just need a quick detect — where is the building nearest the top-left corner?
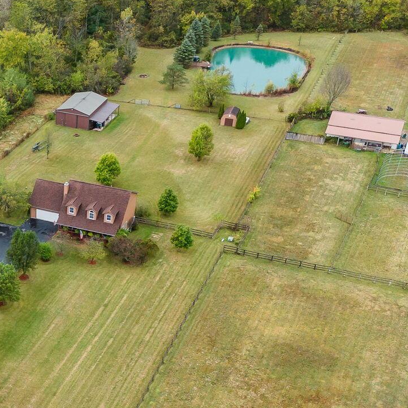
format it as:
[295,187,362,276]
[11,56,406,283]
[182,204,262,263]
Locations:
[56,90,117,134]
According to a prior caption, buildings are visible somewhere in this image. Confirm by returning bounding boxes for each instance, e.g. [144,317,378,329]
[56,90,117,134]
[33,180,149,247]
[327,109,403,153]
[220,108,238,127]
